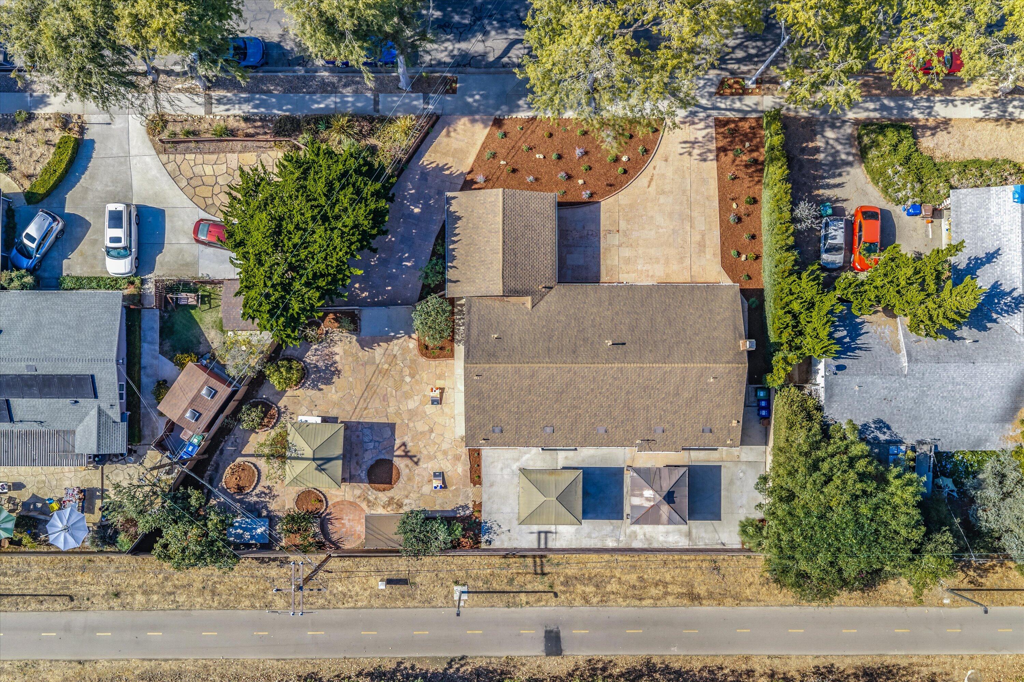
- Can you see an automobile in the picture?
Yes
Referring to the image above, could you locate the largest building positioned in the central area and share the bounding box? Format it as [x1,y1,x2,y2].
[444,188,760,455]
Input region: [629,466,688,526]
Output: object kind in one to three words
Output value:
gazebo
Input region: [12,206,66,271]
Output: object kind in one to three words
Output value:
car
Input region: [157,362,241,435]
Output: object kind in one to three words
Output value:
shed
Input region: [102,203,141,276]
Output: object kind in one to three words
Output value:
car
